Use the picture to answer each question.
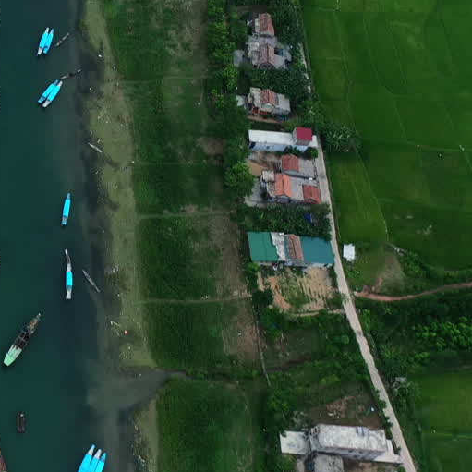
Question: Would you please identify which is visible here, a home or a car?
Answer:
home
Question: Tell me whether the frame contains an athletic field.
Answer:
No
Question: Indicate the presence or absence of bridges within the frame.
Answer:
No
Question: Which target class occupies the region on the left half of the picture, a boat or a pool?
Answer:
boat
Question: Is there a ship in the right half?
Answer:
No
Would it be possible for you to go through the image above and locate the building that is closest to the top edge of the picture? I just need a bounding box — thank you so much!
[255,10,274,36]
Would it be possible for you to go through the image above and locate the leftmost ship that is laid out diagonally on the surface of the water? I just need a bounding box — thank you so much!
[3,313,40,367]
